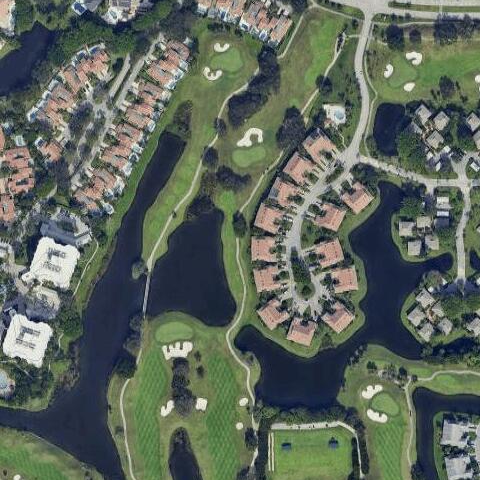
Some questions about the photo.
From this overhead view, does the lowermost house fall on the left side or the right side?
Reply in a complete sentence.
The lowermost house sits on the right side.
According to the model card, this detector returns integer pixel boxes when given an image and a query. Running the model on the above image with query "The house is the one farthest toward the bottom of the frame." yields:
[444,456,479,480]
